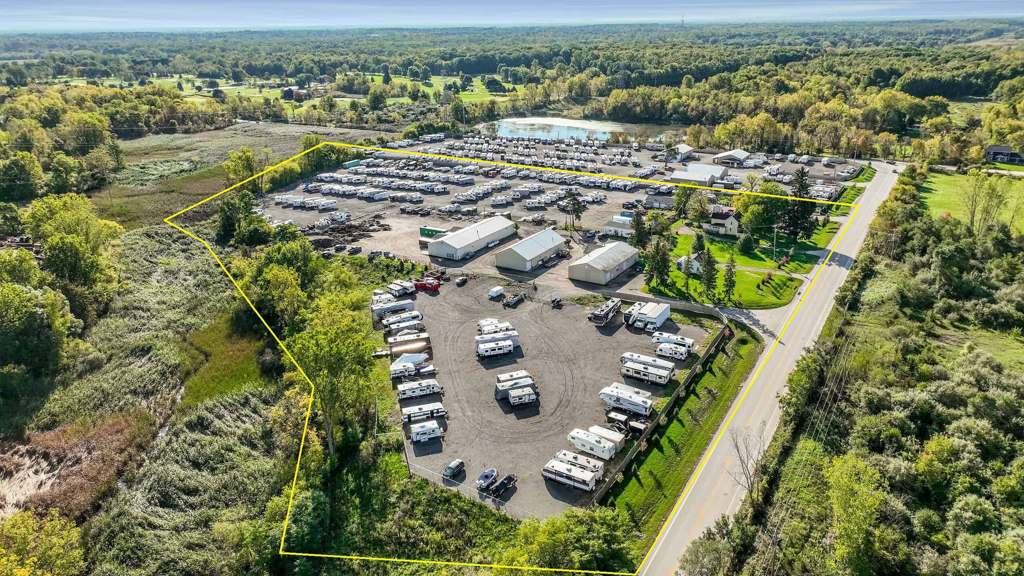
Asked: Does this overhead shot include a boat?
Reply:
Yes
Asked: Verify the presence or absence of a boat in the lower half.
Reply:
Yes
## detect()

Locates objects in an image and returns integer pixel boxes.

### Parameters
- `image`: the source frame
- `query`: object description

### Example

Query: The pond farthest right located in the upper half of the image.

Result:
[479,117,691,141]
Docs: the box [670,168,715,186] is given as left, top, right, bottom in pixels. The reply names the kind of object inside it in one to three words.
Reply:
building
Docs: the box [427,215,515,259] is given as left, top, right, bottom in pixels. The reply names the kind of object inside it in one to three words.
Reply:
shed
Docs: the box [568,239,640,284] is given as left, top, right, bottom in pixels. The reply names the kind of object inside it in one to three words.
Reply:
shed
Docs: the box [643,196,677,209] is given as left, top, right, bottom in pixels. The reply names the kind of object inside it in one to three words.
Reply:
building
